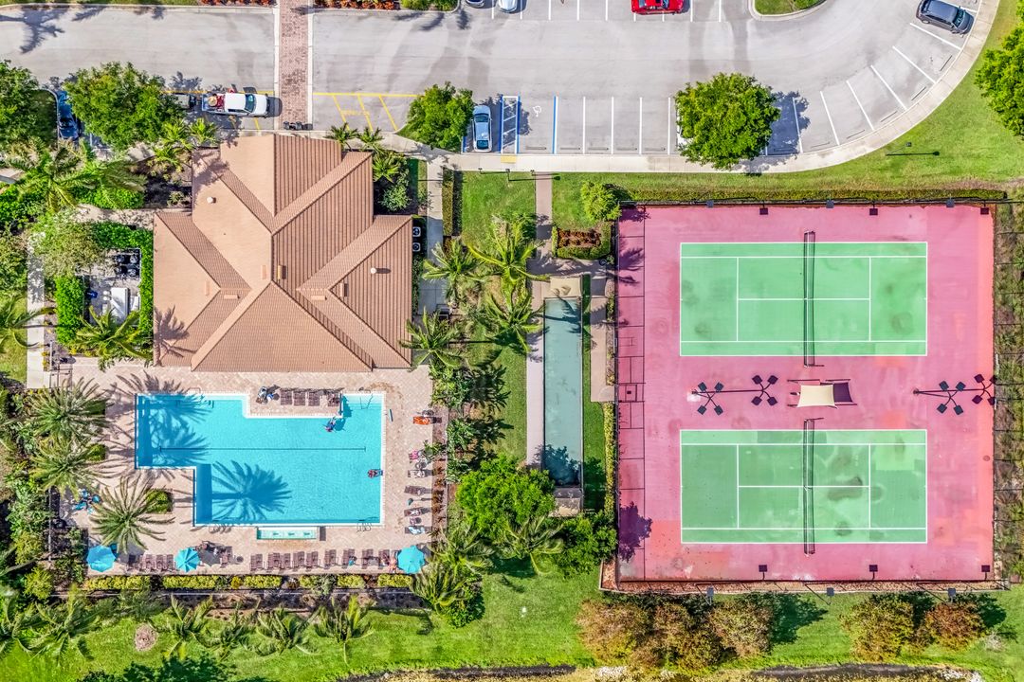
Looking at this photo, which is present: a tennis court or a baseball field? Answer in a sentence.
There is a tennis court in the scene.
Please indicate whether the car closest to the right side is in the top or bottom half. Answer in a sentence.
It is in the top half that the car closest to the right side appears.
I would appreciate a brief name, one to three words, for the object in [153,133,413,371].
building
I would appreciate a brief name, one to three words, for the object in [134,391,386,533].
swimming pool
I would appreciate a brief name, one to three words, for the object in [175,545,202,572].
umbrella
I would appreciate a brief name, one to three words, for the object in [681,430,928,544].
tennis court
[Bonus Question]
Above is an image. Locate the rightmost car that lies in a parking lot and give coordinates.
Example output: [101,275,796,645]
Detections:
[915,0,971,35]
